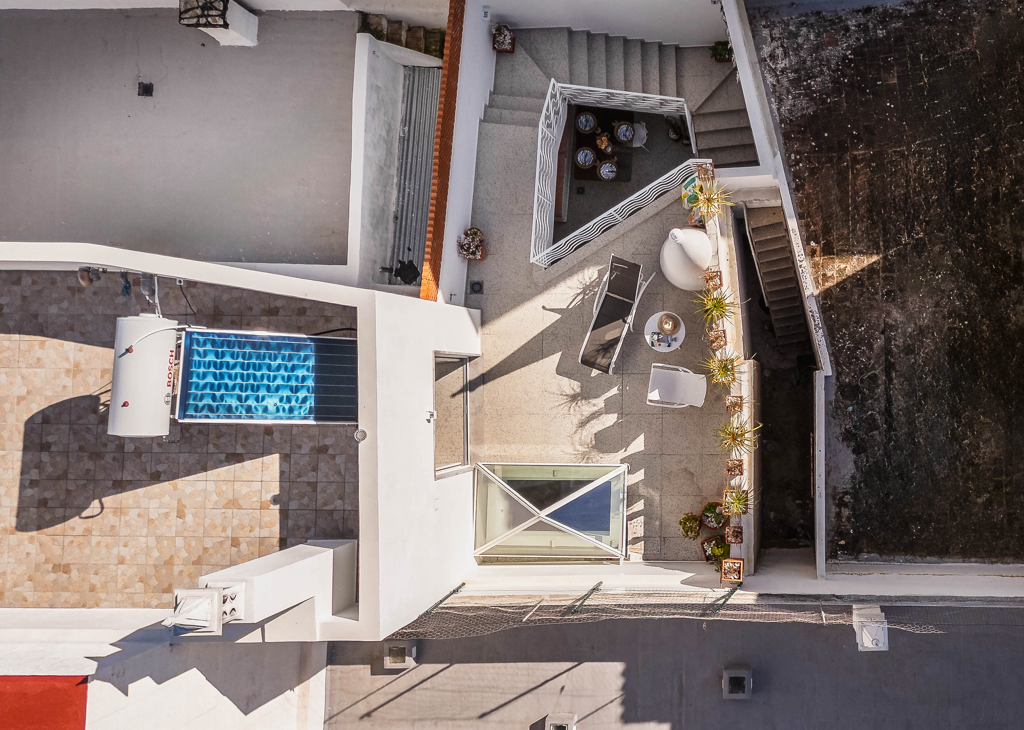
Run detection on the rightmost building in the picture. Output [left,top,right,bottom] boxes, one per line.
[758,0,1024,574]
